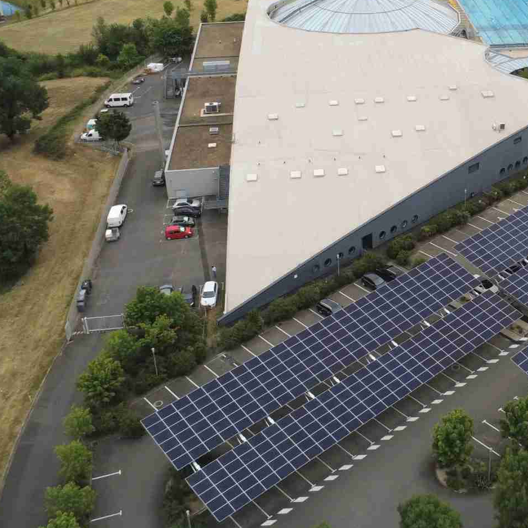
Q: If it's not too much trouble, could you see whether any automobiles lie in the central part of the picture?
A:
Yes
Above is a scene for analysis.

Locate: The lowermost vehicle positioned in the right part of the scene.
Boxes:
[315,298,344,318]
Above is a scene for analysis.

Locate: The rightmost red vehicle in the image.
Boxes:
[163,225,195,239]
